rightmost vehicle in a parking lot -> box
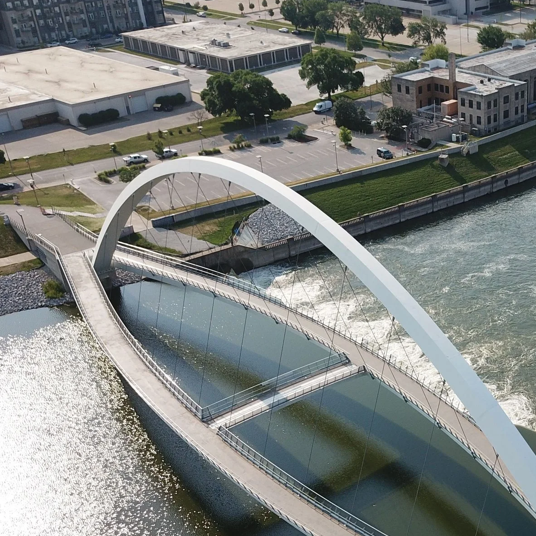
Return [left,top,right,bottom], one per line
[377,146,392,158]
